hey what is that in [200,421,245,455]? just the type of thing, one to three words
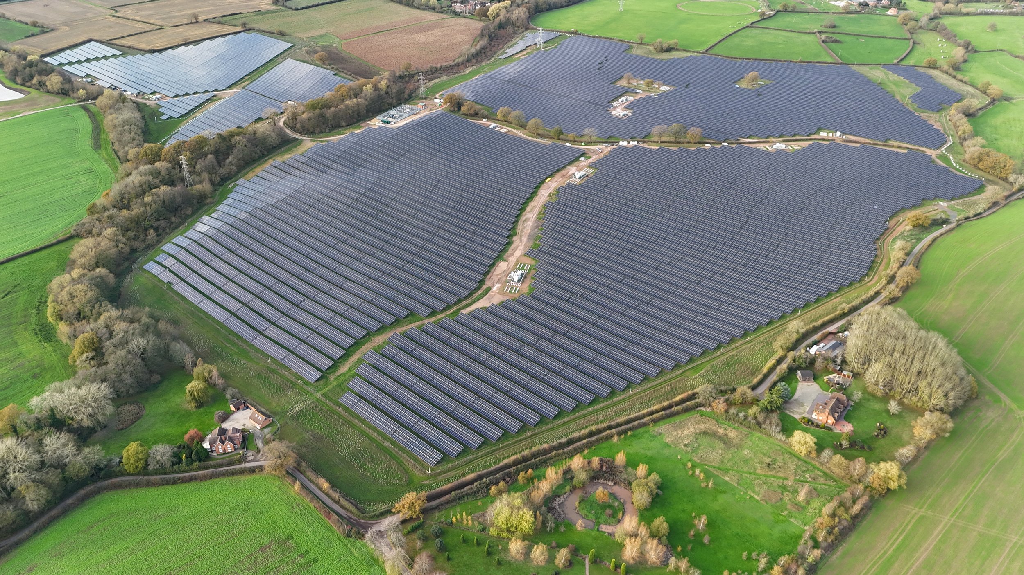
house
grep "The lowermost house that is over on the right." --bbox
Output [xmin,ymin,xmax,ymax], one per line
[808,390,855,425]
